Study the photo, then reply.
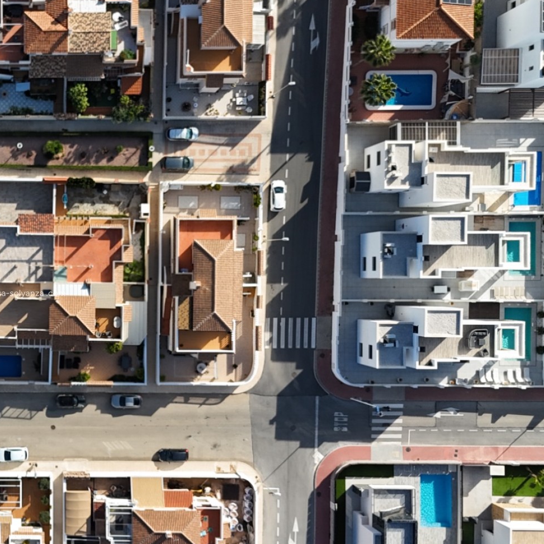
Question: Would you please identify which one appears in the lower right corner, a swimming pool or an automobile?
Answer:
swimming pool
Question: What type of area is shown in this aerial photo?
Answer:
residential area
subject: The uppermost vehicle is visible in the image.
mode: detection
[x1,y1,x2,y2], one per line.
[167,126,198,142]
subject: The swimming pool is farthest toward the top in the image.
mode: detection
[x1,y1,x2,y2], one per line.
[366,69,437,109]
